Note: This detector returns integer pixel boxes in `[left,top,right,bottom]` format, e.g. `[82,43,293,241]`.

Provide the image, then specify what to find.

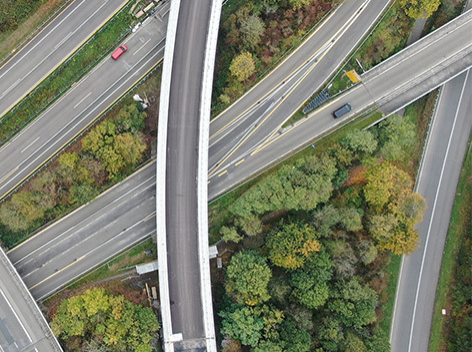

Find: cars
[111,44,128,60]
[334,101,354,118]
